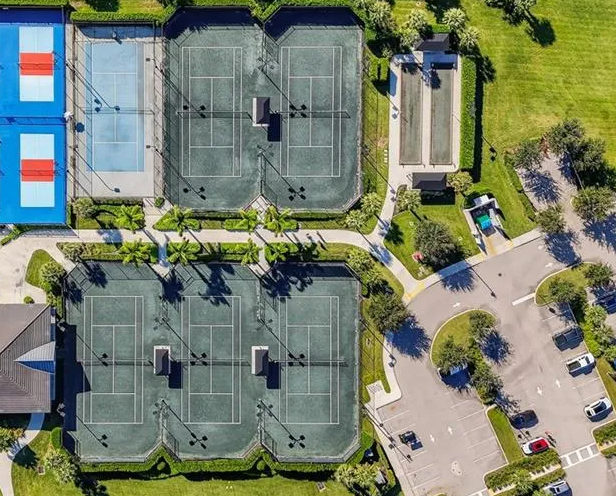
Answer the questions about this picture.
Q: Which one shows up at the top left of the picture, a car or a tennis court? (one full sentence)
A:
The feature located at the top left of the picture is a tennis court.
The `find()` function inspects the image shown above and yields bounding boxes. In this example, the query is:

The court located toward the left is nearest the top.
[15,27,55,101]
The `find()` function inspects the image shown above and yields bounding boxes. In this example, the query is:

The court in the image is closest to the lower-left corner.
[78,296,148,424]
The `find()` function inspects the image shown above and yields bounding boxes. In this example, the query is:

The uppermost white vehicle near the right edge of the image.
[563,351,597,374]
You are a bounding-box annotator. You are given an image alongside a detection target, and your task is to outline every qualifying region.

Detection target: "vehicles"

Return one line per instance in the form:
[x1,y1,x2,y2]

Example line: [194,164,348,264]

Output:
[400,431,417,444]
[521,436,550,455]
[508,408,538,428]
[592,289,616,305]
[582,398,611,418]
[550,325,584,348]
[541,480,567,496]
[563,351,597,374]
